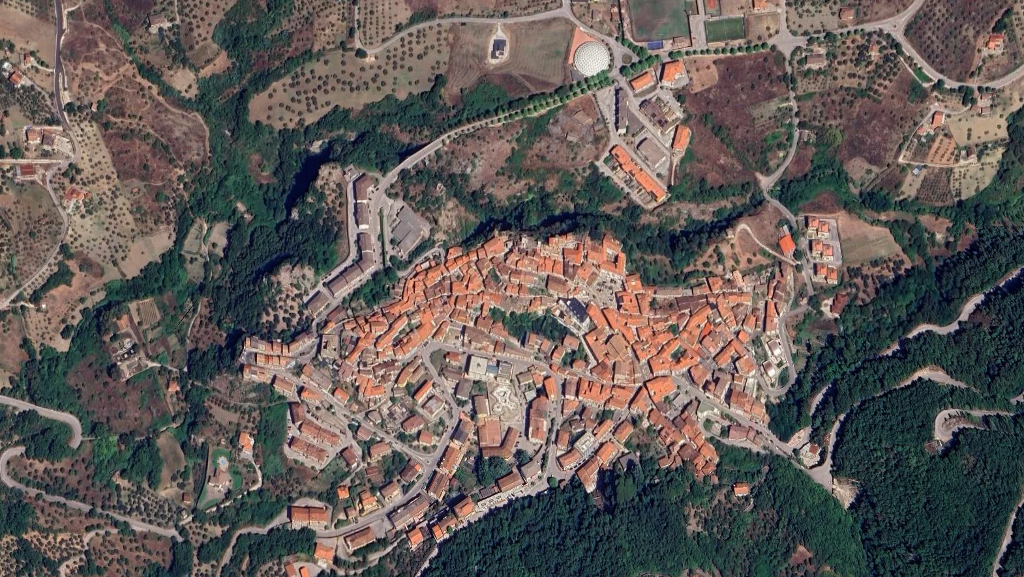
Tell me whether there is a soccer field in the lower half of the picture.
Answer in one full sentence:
No, no soccer field is visible in the lower half of the picture.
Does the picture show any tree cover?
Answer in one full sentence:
Yes, there's tree cover in this view.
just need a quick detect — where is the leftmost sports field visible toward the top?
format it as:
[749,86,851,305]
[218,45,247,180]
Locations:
[631,0,689,40]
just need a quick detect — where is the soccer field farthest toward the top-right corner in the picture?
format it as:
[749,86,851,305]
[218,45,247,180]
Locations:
[706,17,745,43]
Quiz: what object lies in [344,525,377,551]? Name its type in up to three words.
house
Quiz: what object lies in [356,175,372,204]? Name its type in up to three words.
building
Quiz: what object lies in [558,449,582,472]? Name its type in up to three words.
house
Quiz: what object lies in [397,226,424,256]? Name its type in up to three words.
building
